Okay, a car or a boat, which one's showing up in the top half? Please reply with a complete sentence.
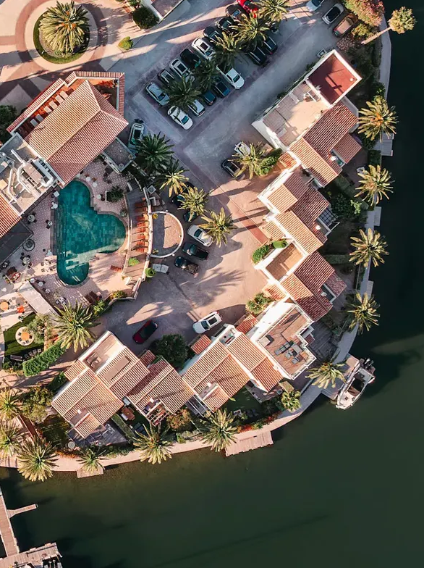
Visible in the top half is a car.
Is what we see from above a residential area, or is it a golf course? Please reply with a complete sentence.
This looks like a residential area.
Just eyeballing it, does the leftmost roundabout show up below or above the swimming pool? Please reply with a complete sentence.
It's above the swimming pool that the leftmost roundabout shows up.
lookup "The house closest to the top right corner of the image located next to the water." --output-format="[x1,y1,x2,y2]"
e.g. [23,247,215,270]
[245,49,365,189]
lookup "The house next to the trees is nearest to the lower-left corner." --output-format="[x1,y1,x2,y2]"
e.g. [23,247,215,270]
[49,366,125,438]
